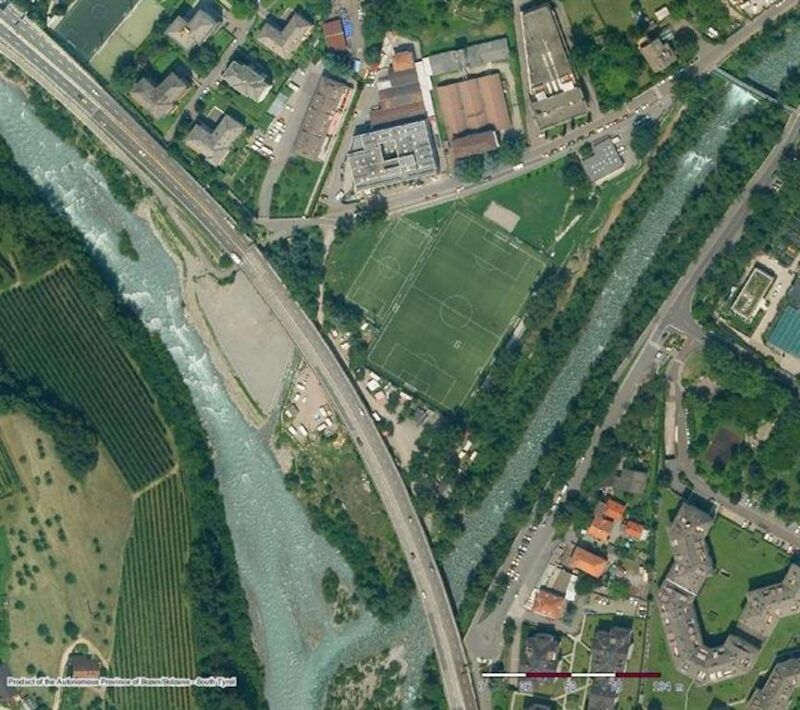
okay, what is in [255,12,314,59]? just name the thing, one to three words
house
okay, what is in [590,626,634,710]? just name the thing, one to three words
building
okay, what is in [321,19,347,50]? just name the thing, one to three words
shed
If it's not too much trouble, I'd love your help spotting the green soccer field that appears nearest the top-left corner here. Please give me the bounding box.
[343,218,438,317]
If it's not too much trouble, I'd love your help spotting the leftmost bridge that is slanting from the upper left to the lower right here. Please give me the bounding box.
[0,2,477,710]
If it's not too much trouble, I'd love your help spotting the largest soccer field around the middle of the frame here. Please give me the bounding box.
[364,207,550,414]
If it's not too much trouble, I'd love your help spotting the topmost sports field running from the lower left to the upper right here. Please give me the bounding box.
[94,0,164,78]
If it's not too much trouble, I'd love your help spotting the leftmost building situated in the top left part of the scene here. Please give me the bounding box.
[129,73,187,120]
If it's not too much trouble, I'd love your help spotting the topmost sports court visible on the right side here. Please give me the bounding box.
[484,202,520,232]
